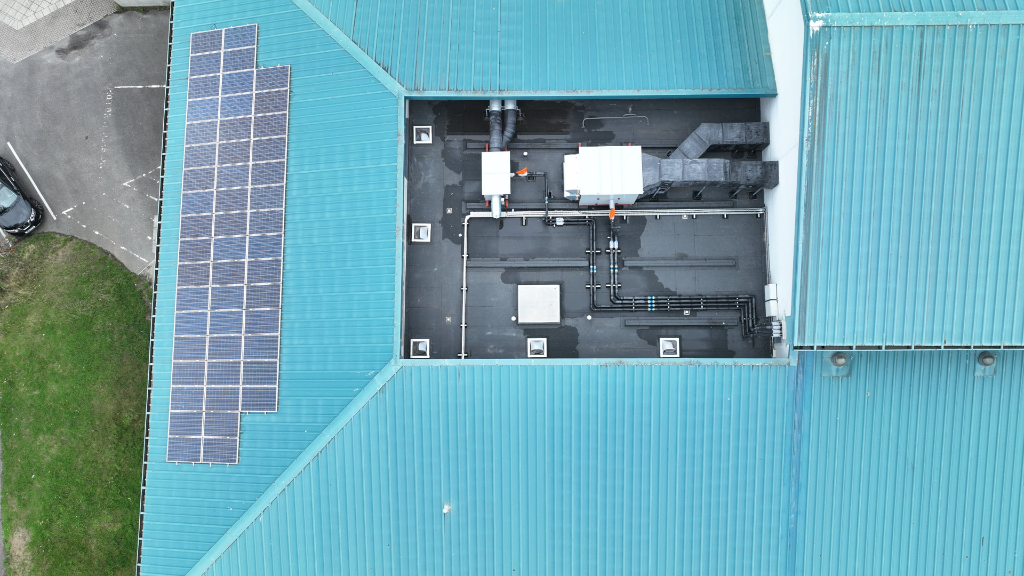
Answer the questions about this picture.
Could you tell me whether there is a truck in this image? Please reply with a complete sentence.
No, no truck is visible in the view.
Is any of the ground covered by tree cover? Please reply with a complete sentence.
No, the scene doesn't show any tree cover.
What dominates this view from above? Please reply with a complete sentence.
The largest share of the image is taken up by buildings.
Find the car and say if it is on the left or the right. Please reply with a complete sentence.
It is on the left.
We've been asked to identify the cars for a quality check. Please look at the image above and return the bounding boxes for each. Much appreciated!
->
[0,155,45,237]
